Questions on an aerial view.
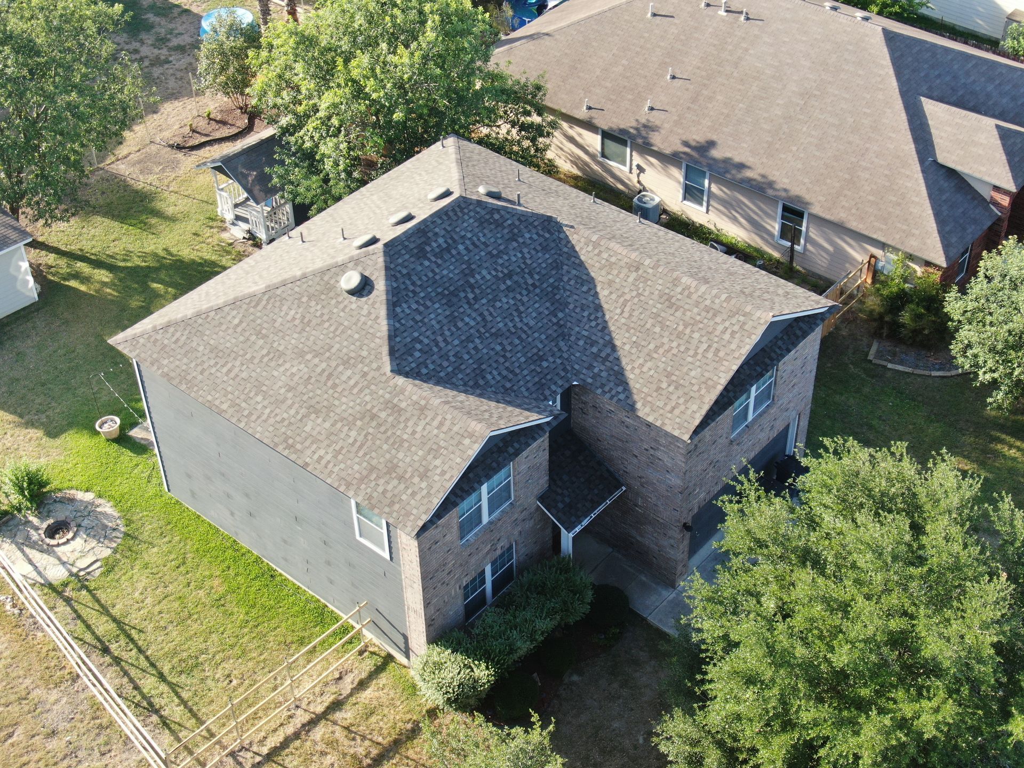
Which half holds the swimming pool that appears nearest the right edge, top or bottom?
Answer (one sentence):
The top half of the photo is where the swimming pool that appears nearest the right edge is.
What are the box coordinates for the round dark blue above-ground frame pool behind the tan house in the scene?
[496,0,567,34]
